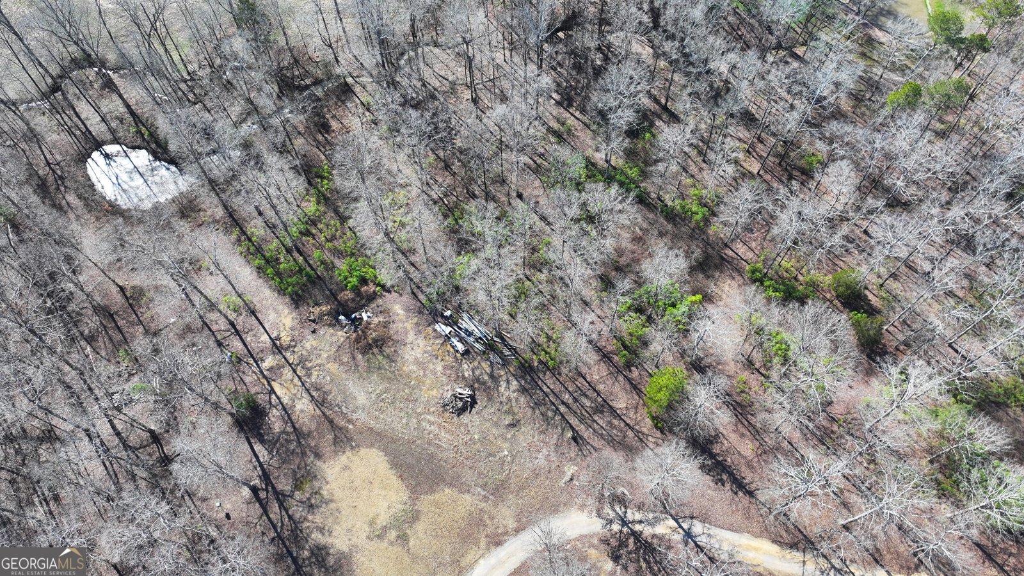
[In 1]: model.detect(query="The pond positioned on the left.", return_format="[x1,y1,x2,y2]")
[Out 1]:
[89,146,188,210]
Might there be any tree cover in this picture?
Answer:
Yes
